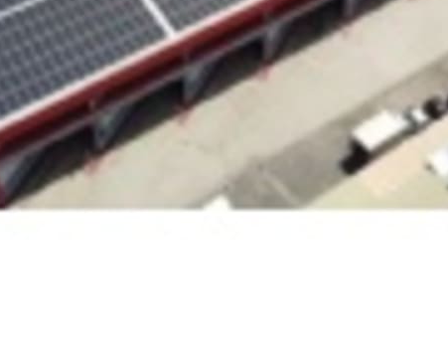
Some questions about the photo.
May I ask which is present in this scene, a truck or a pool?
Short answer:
truck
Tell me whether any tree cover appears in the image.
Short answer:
No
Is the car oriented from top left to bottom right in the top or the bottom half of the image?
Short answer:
top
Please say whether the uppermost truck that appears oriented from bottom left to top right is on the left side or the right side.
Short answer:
right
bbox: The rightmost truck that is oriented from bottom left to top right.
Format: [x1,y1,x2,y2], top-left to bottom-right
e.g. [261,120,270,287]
[354,104,418,155]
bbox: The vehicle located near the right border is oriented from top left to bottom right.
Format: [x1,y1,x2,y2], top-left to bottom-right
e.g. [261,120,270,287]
[420,91,448,120]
